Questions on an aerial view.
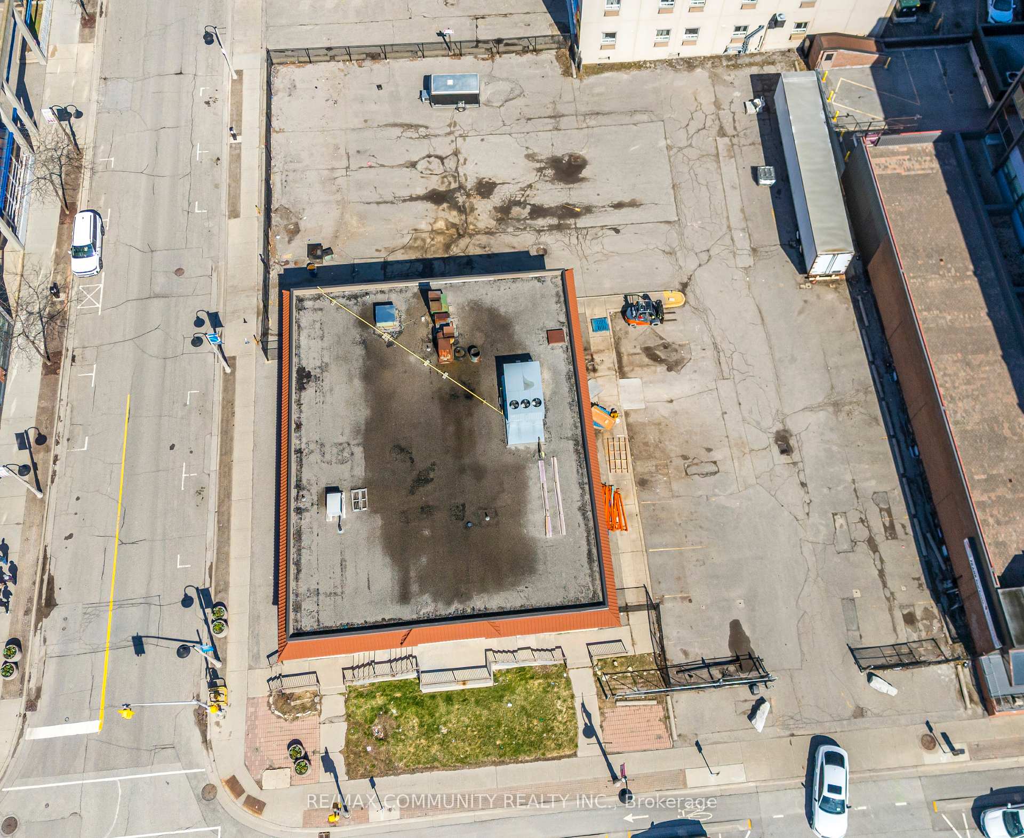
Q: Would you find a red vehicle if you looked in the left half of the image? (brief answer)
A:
No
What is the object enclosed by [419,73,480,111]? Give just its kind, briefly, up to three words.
trailer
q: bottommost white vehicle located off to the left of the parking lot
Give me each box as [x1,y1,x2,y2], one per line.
[63,207,103,276]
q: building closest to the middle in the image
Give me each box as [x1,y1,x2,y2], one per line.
[276,268,622,664]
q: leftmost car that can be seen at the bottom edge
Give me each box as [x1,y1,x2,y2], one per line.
[809,749,855,838]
